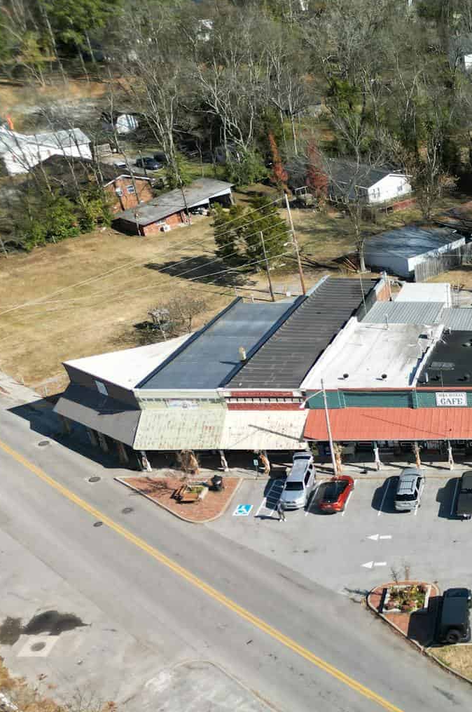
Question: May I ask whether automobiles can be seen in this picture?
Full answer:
Yes, an automobile can be made out from above.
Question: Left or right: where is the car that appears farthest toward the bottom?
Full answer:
The car that appears farthest toward the bottom is on the right side of the image.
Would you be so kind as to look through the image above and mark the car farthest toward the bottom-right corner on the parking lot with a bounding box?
[438,581,472,635]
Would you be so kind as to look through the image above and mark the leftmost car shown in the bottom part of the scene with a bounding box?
[282,447,323,506]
